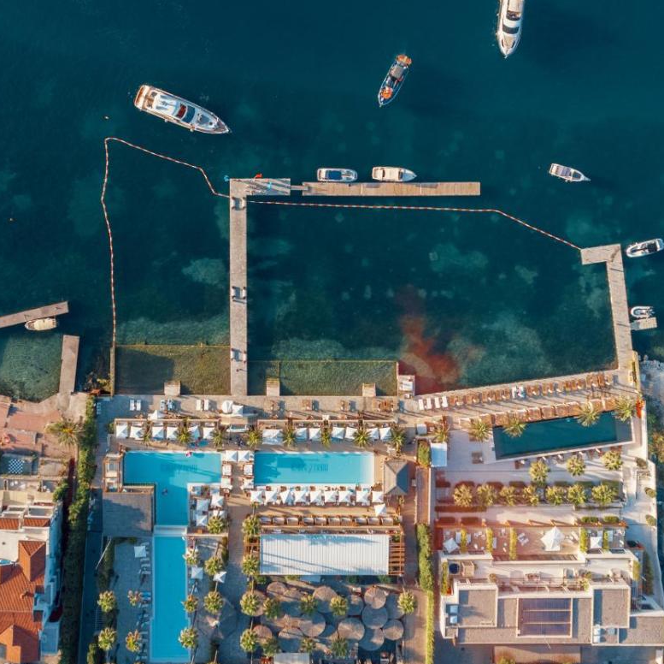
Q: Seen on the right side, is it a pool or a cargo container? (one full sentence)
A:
The feature located on the right side is a pool.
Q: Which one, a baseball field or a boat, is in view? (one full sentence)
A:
The one in the frame is a boat.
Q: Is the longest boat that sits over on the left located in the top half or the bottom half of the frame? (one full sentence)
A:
The longest boat that sits over on the left sits in the top half of the picture.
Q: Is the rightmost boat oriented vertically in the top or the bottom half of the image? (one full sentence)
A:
The rightmost boat oriented vertically sits in the top half of the picture.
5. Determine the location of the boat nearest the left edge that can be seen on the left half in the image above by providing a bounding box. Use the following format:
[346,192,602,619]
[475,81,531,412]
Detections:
[25,318,58,331]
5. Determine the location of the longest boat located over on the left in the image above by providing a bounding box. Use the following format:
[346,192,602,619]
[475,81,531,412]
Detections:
[132,85,228,133]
